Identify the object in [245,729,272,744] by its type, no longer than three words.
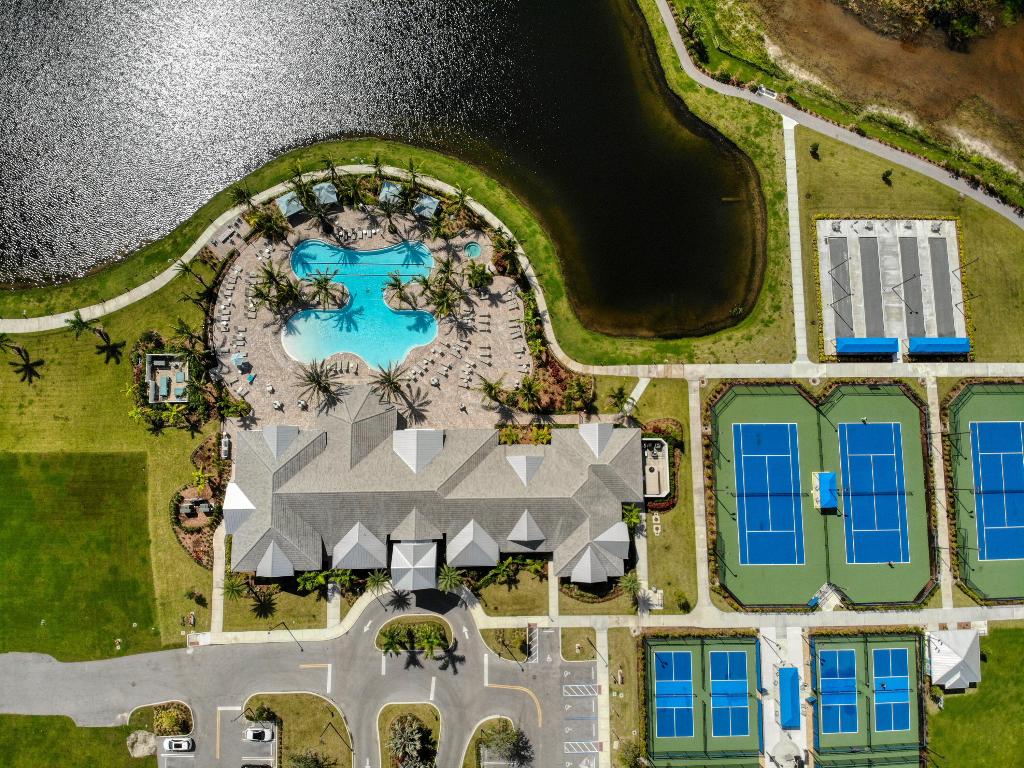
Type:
car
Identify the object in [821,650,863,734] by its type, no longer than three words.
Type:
sports court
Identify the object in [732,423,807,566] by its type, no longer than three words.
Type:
tennis court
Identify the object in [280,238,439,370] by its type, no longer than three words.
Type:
swimming pool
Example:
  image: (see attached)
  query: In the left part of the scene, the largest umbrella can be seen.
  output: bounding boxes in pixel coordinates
[230,352,246,366]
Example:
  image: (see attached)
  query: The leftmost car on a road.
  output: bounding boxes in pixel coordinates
[163,739,190,754]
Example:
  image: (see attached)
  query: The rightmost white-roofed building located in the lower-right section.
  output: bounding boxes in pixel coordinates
[920,627,980,689]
